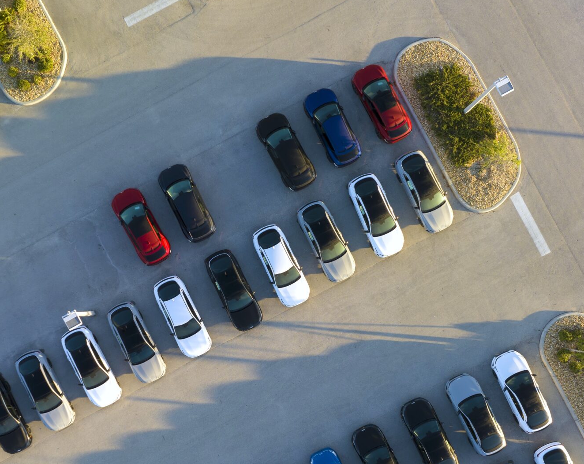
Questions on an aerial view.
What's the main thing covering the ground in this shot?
paved ground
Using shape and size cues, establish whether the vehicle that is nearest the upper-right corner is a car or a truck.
car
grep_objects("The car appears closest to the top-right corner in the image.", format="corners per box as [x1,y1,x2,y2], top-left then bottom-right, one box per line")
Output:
[400,150,453,233]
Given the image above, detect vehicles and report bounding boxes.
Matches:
[450,373,506,456]
[311,446,344,464]
[62,326,115,409]
[207,249,259,331]
[495,350,552,433]
[350,174,401,256]
[534,441,572,464]
[255,224,305,306]
[400,150,453,233]
[300,199,353,282]
[154,276,207,357]
[0,376,31,456]
[405,397,457,464]
[18,349,69,432]
[109,302,163,384]
[355,423,399,464]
